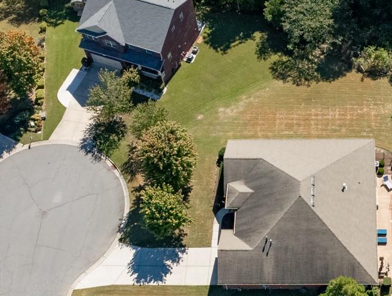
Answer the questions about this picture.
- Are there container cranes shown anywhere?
No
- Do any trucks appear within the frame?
No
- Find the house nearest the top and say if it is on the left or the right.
left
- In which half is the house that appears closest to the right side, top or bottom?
bottom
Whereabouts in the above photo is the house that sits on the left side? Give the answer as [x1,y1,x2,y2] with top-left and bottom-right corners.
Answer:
[75,0,198,91]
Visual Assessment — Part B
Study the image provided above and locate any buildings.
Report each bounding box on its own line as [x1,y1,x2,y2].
[216,138,379,290]
[75,0,198,91]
